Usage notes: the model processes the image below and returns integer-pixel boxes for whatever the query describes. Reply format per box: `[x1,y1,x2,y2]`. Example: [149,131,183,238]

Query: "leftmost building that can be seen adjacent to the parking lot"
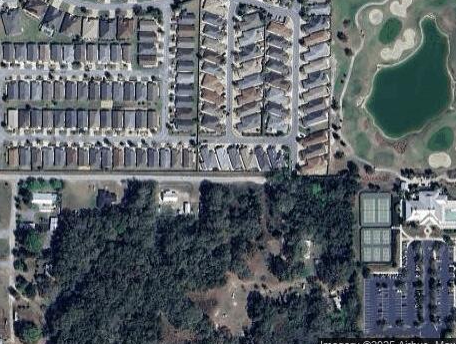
[404,191,444,227]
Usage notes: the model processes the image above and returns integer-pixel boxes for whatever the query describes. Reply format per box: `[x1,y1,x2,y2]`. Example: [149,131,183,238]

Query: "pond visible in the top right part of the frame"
[366,18,453,138]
